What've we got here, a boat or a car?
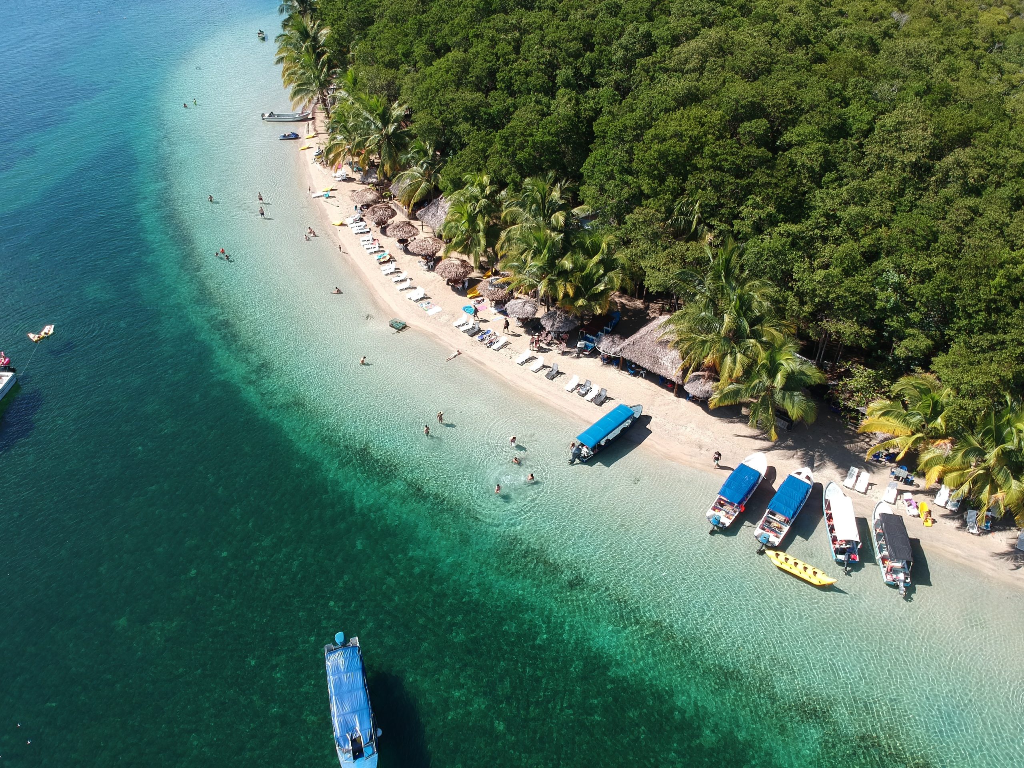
boat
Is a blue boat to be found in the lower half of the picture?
Yes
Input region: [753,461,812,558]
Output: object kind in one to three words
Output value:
boat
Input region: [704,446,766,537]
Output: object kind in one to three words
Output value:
boat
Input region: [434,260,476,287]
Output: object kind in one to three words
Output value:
umbrella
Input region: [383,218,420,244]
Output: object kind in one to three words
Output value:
umbrella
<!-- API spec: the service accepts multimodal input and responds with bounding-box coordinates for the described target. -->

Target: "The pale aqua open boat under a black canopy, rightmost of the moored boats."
[871,497,913,603]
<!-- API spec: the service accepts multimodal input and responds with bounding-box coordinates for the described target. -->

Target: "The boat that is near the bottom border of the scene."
[324,627,379,768]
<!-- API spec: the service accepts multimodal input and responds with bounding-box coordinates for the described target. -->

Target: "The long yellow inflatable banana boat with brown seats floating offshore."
[766,549,838,584]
